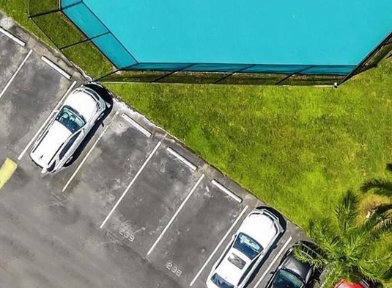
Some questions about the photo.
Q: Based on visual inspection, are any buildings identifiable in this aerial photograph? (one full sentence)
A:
No, there's no building here.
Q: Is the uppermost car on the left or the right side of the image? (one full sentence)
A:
The uppermost car appears in the left half of the scene.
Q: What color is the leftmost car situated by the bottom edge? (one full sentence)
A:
In this view, the leftmost car situated by the bottom edge is white.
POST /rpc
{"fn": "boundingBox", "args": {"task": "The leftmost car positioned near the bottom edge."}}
[207,208,283,288]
